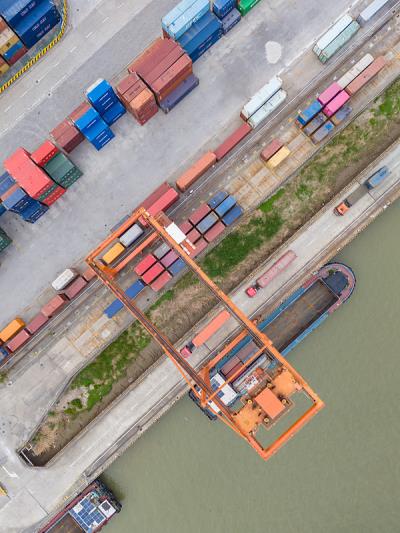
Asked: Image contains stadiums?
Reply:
No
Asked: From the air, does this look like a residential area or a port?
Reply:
port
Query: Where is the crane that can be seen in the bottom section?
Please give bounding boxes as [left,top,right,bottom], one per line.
[90,206,324,457]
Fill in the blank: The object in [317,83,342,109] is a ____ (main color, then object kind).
pink shipping container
